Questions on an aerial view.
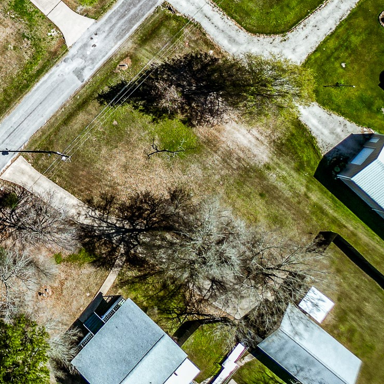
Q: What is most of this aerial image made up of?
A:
grass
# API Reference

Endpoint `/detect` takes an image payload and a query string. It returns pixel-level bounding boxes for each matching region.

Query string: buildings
[335,134,384,221]
[251,301,366,384]
[68,295,200,384]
